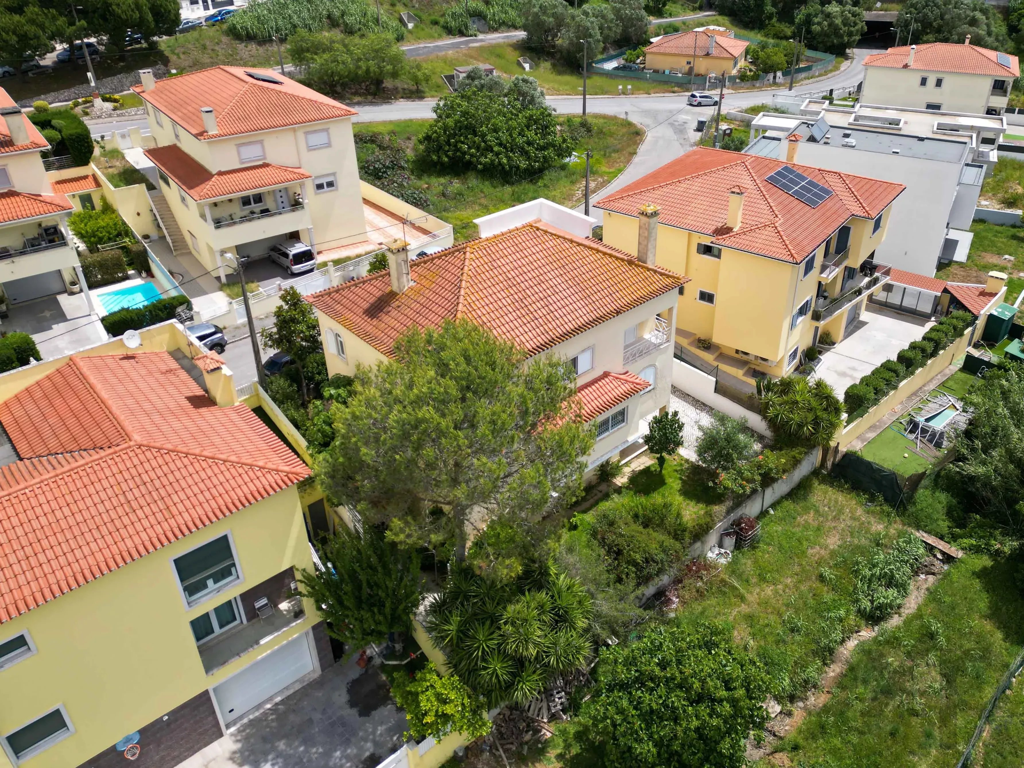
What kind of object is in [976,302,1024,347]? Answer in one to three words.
shed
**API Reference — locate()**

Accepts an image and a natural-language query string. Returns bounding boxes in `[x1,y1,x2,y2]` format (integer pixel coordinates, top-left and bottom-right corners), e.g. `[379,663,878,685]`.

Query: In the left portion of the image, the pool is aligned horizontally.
[94,277,169,317]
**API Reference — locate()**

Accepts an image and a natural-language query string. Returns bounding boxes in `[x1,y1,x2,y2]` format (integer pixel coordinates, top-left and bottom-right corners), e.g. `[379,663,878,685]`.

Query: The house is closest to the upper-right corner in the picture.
[859,25,1023,116]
